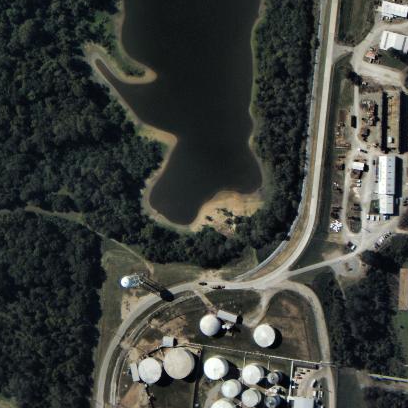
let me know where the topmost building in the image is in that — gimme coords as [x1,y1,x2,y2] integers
[381,1,408,17]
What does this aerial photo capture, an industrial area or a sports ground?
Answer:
industrial area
